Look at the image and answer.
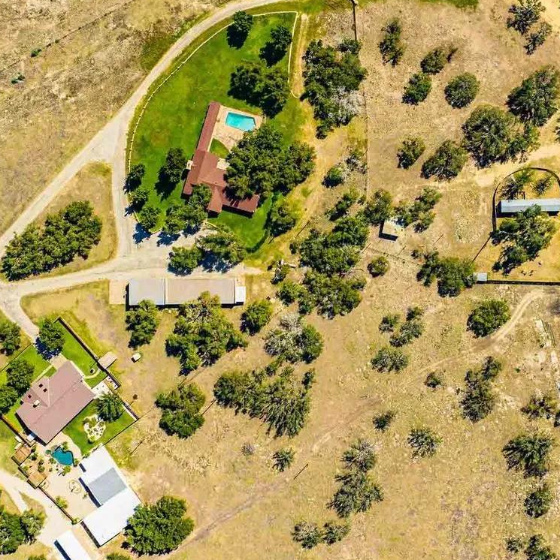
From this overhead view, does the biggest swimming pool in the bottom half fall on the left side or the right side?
left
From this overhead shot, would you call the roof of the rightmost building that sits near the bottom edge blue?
No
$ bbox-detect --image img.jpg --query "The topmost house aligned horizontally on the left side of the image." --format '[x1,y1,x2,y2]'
[128,279,246,306]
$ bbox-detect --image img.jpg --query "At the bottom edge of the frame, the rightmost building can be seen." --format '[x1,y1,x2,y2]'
[80,443,145,547]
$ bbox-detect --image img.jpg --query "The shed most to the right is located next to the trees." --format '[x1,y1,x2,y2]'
[501,200,560,213]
